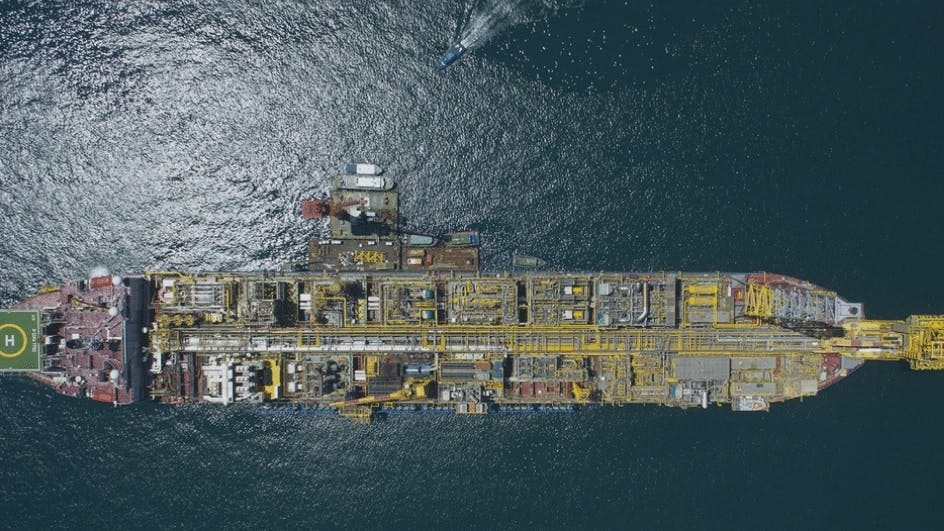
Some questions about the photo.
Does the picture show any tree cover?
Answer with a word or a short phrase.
No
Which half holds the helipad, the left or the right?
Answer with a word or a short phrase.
left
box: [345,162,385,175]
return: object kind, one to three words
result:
boat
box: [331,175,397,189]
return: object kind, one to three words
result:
boat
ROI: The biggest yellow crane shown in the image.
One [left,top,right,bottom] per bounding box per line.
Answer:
[337,379,427,407]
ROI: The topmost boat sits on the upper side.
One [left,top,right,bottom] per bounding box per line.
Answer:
[439,41,467,70]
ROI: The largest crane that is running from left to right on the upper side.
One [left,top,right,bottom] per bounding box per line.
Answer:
[301,198,371,226]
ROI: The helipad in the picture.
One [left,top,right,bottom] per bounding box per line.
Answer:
[0,308,60,374]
